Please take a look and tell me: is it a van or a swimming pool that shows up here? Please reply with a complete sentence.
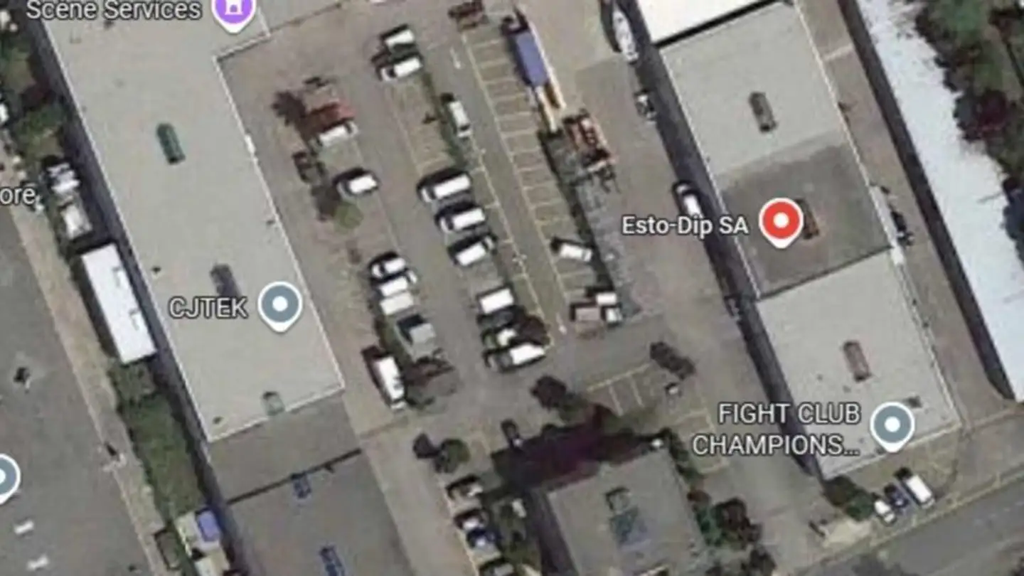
There is a van in the scene.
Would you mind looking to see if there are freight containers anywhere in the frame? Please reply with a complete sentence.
Yes, looking at the shot, I can spot a freight container.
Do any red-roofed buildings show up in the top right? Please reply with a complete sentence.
No, I see no red-roofed building in the top right.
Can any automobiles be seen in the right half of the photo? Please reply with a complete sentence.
Yes, an automobile appears in the right half of the photo.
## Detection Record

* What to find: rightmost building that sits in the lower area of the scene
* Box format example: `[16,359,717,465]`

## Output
[756,245,970,479]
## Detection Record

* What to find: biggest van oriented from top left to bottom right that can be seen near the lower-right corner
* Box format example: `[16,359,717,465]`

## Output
[895,464,936,512]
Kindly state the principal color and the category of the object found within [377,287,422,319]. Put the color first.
white camper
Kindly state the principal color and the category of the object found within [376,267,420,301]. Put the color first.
white van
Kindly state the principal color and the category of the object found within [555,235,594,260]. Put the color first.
white car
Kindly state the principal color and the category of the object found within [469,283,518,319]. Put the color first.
white van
